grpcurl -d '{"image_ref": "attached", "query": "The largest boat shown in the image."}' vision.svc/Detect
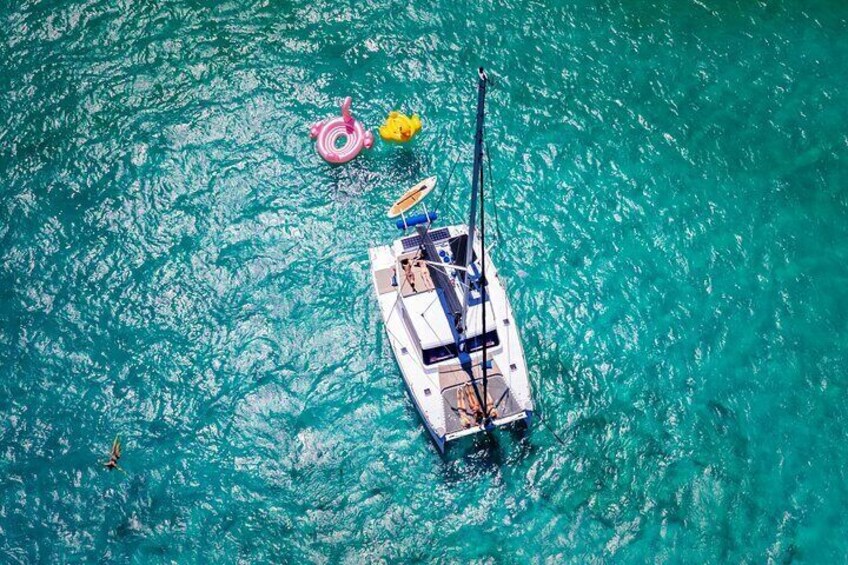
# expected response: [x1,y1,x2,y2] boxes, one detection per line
[368,43,556,454]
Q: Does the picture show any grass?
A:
No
